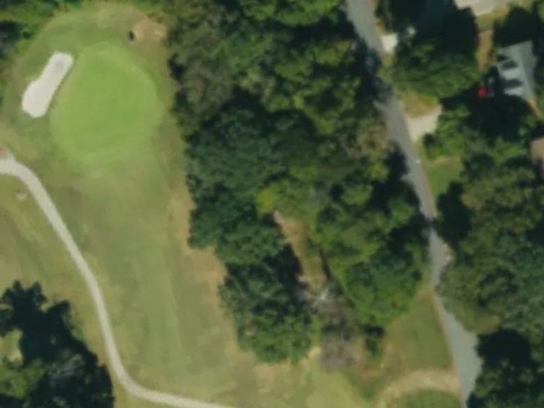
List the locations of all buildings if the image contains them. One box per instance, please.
[444,0,523,22]
[496,39,541,100]
[529,138,544,171]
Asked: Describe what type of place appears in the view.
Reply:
golf course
